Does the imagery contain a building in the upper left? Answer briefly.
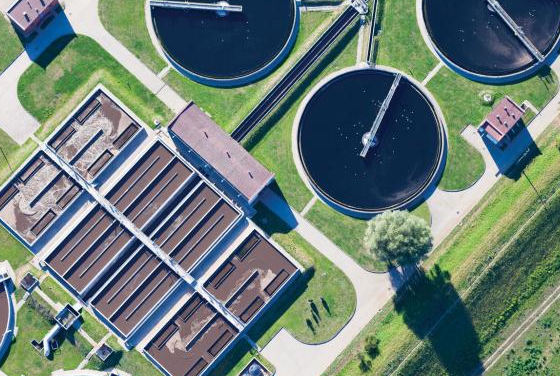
Yes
